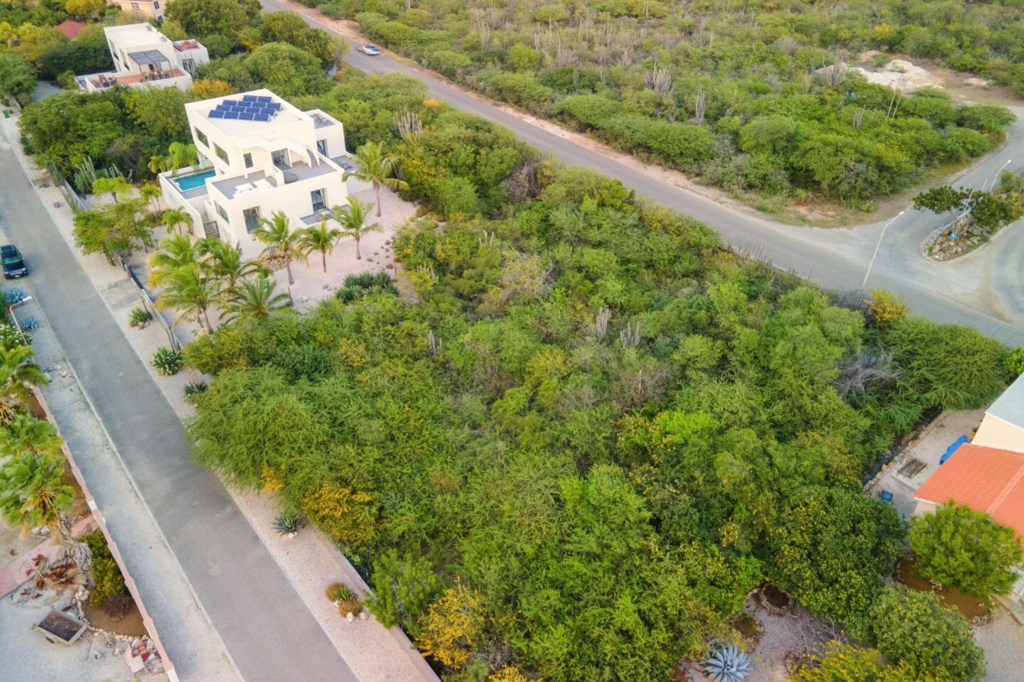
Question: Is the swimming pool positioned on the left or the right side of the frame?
left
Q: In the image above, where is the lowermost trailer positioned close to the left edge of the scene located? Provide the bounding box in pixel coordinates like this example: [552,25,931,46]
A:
[33,601,89,647]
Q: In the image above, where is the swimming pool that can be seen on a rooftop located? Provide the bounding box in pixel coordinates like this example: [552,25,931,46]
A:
[178,172,217,192]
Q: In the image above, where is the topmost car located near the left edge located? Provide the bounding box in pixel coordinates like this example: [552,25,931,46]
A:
[0,239,31,279]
